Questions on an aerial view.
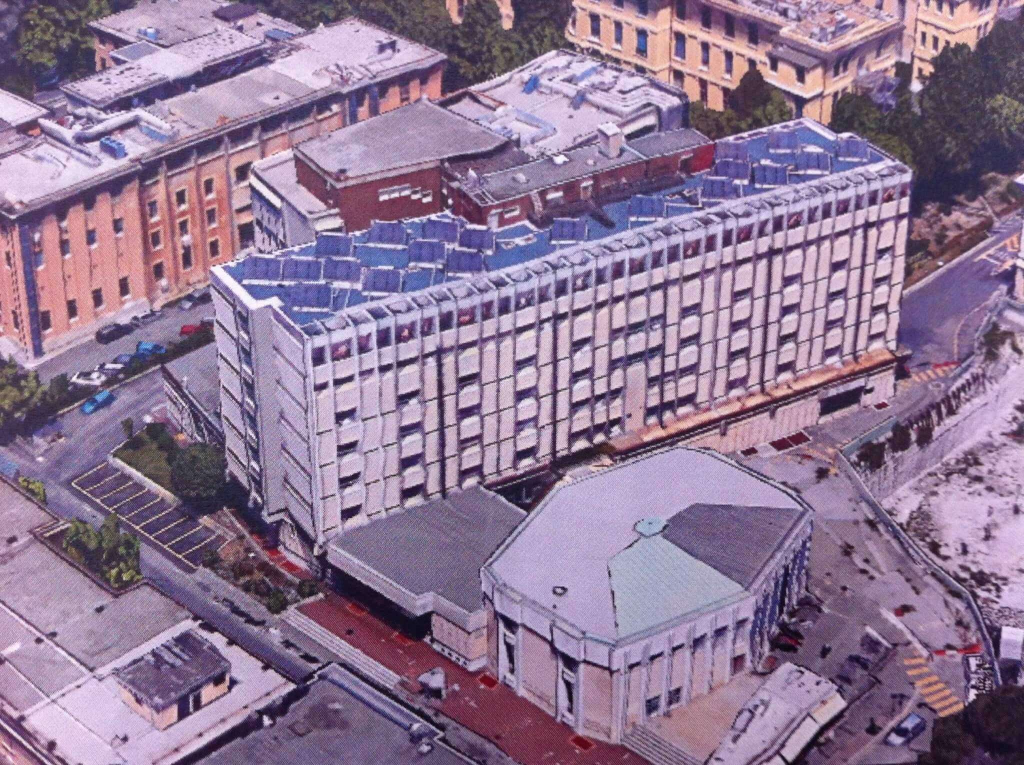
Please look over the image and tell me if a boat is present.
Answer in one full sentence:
No, the picture doesn't show any boat.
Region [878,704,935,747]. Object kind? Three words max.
car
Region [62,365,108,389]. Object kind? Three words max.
car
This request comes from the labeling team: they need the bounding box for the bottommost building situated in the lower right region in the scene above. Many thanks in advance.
[704,662,844,765]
